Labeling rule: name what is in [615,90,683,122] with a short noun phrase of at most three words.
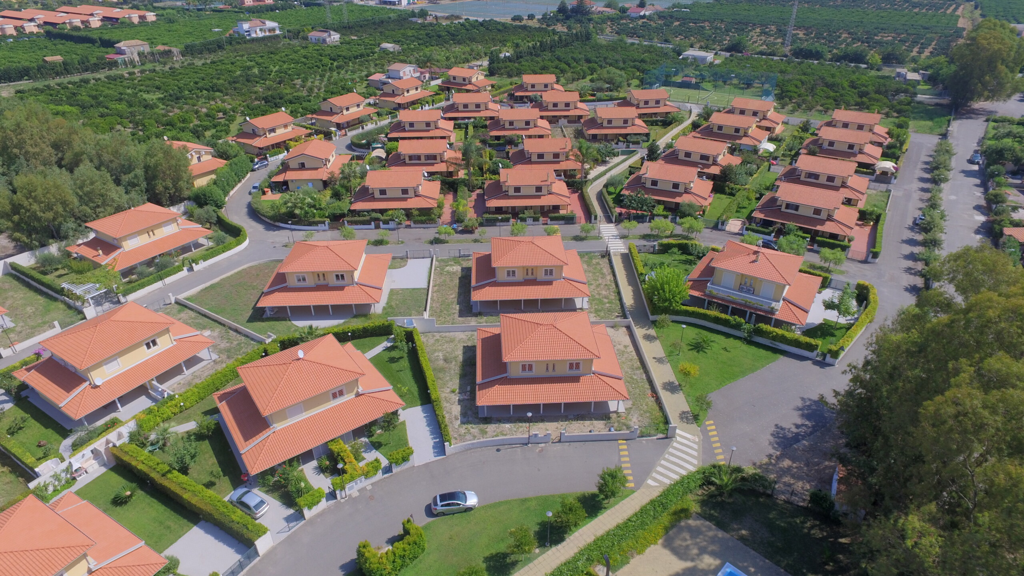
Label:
house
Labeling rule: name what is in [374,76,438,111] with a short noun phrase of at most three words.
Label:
house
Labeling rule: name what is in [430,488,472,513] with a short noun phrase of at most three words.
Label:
car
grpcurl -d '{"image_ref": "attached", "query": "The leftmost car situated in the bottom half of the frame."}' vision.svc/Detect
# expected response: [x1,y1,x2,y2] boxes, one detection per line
[228,487,266,518]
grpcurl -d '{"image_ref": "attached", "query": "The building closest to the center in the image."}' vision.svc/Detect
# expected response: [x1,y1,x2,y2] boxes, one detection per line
[471,228,591,314]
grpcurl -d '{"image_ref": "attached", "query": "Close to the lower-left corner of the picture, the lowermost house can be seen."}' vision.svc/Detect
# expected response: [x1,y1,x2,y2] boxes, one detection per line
[0,484,173,576]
